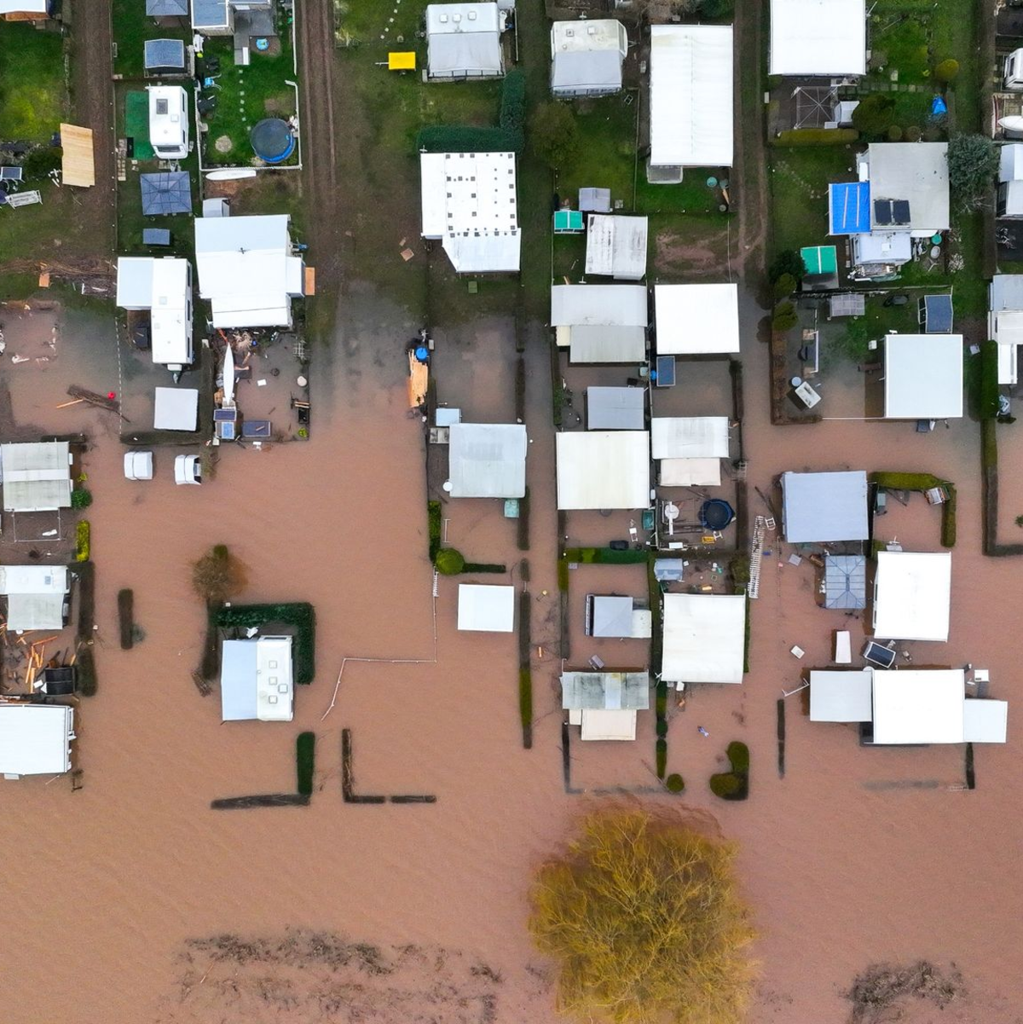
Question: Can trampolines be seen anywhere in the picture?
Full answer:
Yes, I can see a trampoline in this picture.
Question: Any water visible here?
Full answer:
Yes, some water is visible.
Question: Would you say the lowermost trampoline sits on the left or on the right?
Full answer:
You can find the lowermost trampoline on the right side of the picture.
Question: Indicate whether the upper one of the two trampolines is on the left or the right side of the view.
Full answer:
The upper one of the two trampolines is on the left side of the image.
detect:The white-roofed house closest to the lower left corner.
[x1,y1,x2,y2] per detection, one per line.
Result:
[0,704,76,774]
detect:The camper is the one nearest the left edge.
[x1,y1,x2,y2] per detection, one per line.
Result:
[0,564,80,595]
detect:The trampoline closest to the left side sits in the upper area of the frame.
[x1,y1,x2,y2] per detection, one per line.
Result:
[250,118,296,163]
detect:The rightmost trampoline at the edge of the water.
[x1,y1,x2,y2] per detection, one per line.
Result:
[699,496,737,532]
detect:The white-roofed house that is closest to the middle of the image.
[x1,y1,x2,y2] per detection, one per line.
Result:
[448,424,526,497]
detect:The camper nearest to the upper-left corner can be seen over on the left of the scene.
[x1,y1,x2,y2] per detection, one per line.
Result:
[150,87,191,171]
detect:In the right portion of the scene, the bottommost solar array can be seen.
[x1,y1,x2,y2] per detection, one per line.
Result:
[657,356,675,386]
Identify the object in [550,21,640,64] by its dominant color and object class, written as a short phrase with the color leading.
white camper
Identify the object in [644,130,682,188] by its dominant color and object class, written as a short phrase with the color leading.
gray camper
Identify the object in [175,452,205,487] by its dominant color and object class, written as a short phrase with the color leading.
white van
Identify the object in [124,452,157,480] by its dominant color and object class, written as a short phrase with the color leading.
white van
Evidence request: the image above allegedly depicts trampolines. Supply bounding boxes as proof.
[699,496,737,532]
[250,118,296,163]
